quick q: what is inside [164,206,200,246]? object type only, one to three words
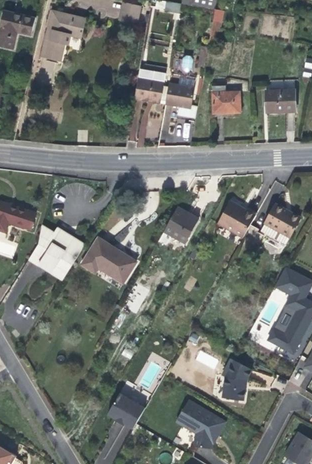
house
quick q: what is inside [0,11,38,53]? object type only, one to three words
house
